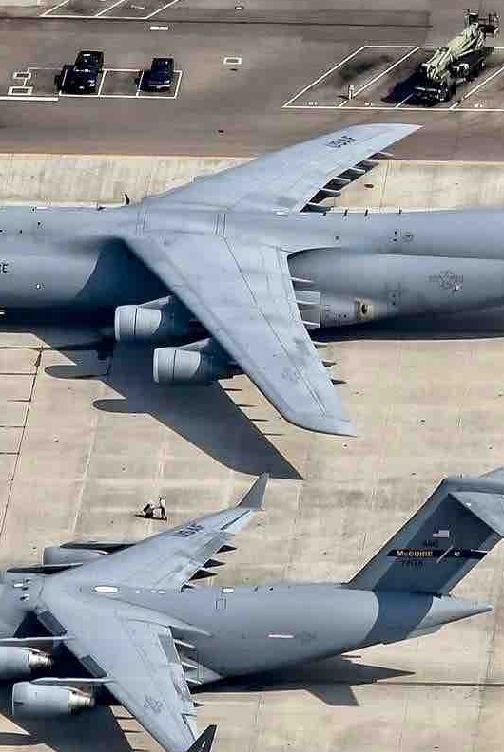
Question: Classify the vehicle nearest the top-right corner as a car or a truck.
truck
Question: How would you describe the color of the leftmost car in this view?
black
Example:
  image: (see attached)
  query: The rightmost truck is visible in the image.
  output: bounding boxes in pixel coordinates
[420,4,498,105]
